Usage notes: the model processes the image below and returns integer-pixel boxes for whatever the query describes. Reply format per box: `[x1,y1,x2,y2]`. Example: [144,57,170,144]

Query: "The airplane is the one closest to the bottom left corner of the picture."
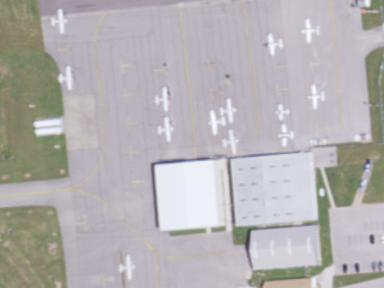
[117,254,137,280]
